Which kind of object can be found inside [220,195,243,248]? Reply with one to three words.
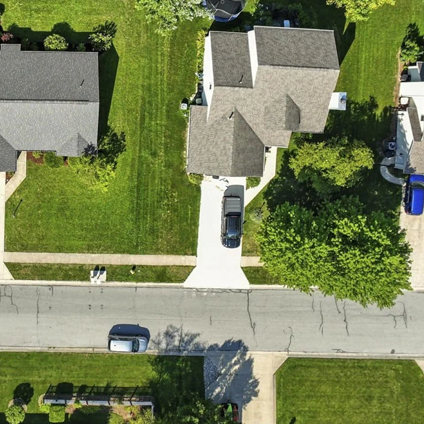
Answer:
truck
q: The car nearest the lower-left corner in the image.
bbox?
[106,332,149,355]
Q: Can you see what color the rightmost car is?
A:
blue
